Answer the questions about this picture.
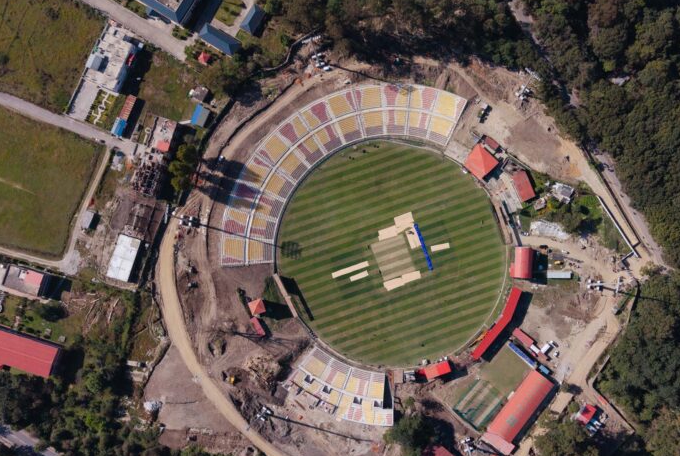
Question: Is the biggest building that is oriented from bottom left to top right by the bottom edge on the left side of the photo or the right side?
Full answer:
You can find the biggest building that is oriented from bottom left to top right by the bottom edge on the right side of the picture.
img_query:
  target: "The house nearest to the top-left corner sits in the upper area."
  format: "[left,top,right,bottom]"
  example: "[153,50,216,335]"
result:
[86,26,146,89]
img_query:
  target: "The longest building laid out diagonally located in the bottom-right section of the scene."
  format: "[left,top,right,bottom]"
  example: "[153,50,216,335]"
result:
[487,369,555,442]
